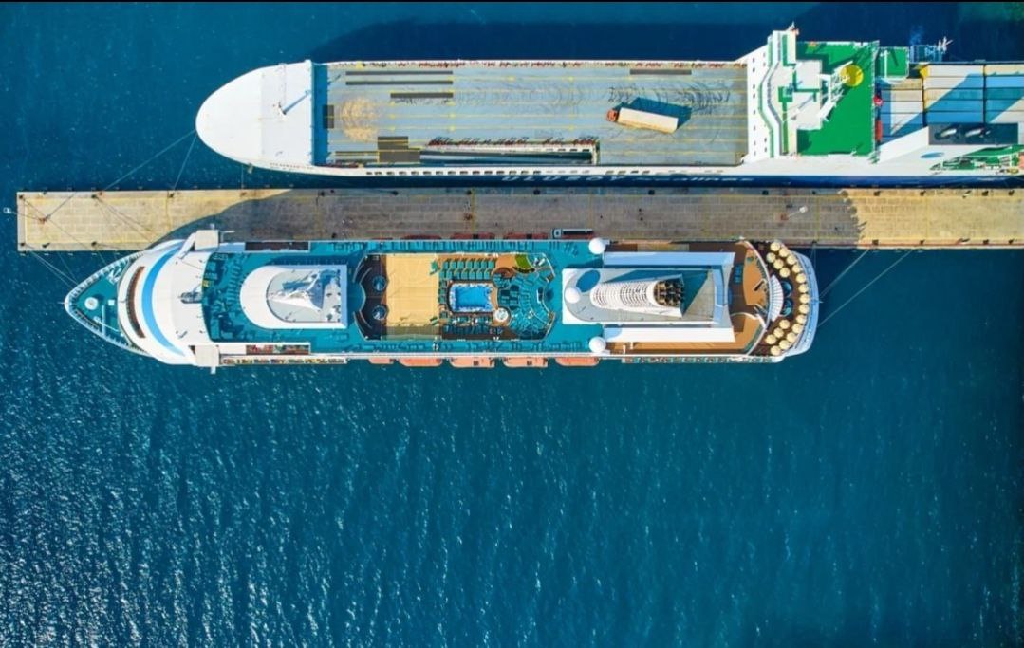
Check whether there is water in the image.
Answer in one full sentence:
Yes, water shows up in the scene.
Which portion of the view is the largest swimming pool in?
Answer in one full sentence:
The largest swimming pool sits in the center section of the image.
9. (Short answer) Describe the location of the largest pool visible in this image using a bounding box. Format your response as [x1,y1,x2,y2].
[446,281,494,315]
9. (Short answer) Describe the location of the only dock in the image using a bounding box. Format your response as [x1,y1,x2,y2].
[17,187,1024,254]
